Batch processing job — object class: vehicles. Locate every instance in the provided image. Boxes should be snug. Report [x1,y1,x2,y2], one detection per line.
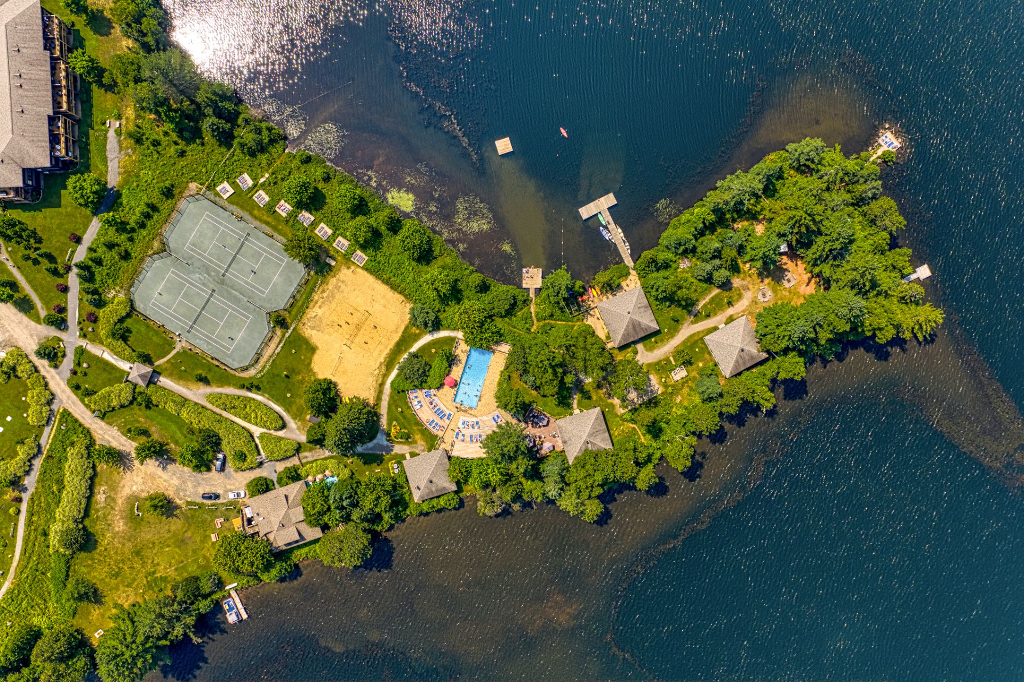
[216,453,225,472]
[228,490,247,499]
[201,492,221,500]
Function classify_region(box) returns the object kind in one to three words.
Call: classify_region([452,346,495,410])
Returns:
swimming pool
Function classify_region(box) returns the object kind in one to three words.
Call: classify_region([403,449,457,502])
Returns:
house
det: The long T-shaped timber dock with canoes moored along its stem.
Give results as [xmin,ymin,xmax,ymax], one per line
[578,193,634,268]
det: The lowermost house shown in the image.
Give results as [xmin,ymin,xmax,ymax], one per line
[241,480,321,554]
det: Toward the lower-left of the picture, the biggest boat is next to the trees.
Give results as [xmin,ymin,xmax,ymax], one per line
[221,599,240,626]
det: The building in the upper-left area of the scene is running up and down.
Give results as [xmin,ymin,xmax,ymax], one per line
[0,0,83,203]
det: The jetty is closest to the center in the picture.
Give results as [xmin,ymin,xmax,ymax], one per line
[522,268,542,303]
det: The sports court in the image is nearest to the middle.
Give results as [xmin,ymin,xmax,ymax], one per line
[297,265,415,406]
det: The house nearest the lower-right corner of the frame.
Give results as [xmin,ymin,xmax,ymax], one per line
[704,316,765,378]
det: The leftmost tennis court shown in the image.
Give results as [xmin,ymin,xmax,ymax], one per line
[135,199,304,367]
